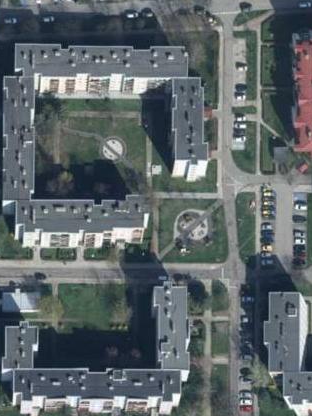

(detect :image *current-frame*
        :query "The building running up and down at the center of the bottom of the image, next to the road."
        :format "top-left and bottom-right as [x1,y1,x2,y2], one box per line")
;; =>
[154,281,195,380]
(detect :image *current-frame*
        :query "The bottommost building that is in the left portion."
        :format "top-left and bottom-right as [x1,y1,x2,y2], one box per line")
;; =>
[13,369,187,416]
